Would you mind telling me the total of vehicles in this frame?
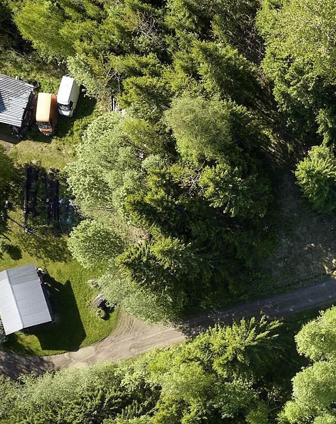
2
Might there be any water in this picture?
No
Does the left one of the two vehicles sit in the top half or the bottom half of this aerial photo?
top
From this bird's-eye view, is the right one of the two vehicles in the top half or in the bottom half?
top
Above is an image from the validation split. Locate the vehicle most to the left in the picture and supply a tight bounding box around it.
[38,92,60,136]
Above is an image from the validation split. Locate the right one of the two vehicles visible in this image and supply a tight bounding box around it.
[55,73,81,117]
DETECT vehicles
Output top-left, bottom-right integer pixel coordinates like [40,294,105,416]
[38,92,60,136]
[55,73,81,117]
